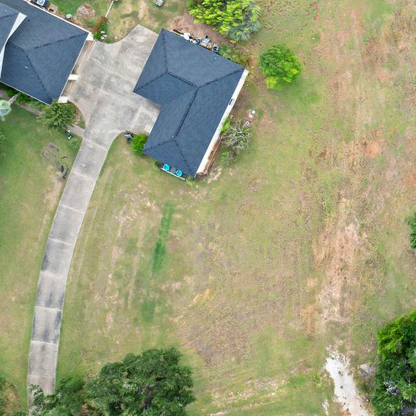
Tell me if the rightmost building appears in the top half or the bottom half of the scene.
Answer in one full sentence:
The top half of the photo is where the rightmost building is.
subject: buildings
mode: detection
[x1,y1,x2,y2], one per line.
[132,29,253,178]
[0,0,99,105]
